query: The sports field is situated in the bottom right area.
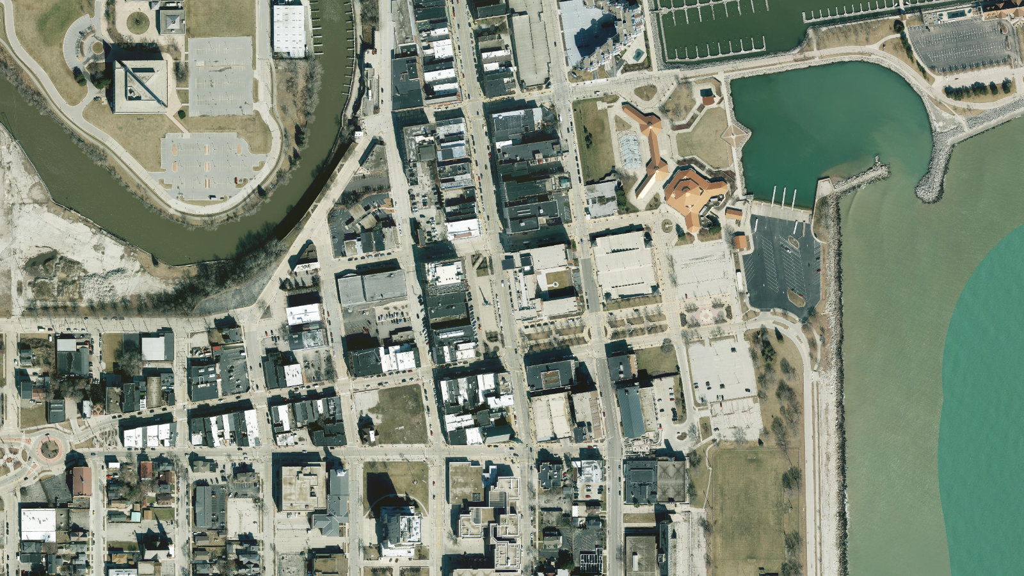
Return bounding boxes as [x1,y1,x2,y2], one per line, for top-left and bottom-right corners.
[713,449,804,576]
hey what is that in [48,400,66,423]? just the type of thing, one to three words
building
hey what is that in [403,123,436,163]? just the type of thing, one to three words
building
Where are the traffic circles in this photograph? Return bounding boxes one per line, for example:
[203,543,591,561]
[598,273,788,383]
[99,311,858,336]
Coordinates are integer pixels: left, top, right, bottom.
[27,426,71,469]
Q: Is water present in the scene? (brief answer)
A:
Yes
